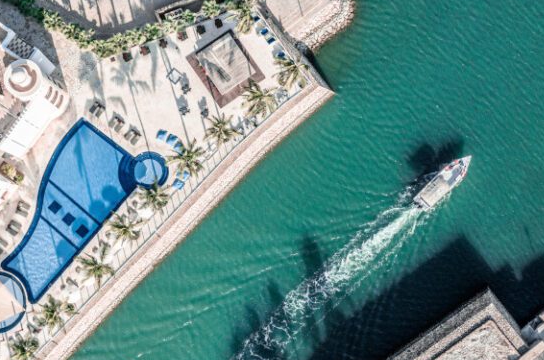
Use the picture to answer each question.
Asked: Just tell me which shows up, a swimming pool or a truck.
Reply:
swimming pool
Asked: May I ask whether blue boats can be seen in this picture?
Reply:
No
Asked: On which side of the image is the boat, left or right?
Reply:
right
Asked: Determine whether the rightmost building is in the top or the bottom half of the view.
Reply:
top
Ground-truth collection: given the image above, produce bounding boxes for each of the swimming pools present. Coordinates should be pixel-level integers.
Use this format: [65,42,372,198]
[2,119,137,305]
[0,268,27,331]
[133,152,168,187]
